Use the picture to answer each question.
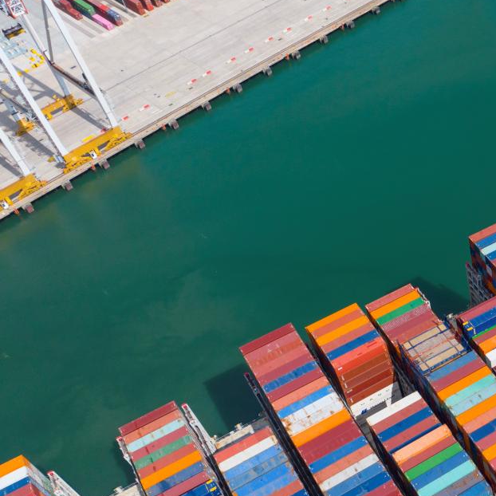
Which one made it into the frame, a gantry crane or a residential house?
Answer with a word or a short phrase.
gantry crane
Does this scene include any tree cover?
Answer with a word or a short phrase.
No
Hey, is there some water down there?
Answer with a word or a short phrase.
Yes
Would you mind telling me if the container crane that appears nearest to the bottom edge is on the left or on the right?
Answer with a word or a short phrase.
left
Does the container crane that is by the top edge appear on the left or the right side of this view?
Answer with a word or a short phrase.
left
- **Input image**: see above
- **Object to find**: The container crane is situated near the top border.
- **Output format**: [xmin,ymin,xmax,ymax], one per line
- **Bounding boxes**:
[0,0,132,170]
